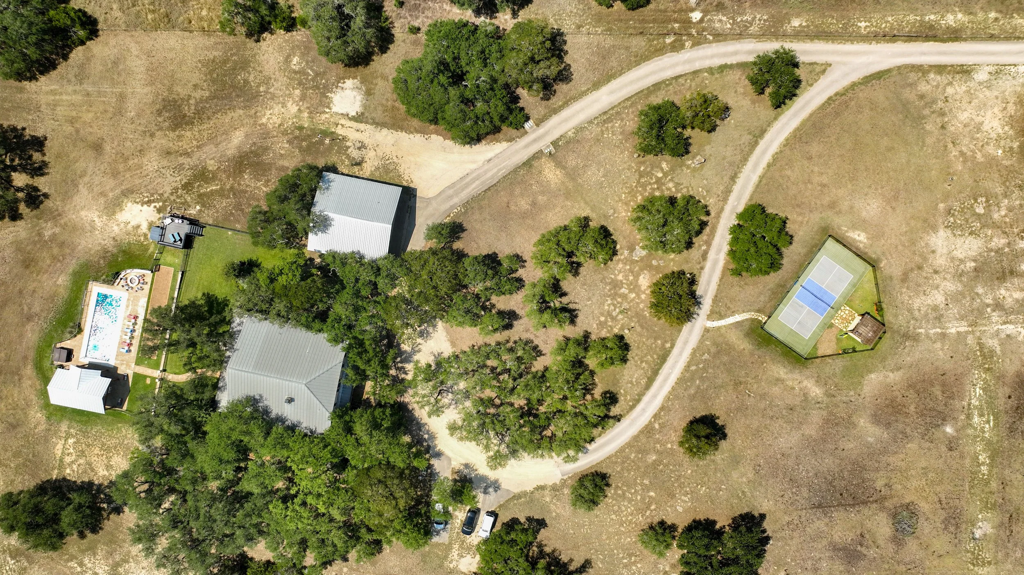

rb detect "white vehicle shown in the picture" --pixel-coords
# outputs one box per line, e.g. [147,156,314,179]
[478,511,495,541]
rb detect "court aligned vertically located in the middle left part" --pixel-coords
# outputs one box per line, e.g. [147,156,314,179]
[139,265,174,359]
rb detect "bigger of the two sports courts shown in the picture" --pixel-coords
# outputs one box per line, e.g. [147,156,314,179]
[764,238,870,357]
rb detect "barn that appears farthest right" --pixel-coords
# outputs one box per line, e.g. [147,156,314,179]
[307,172,404,265]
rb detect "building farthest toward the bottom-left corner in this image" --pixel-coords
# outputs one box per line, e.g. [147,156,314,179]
[47,364,119,414]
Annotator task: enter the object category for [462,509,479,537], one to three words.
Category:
car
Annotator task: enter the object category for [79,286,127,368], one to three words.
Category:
swimming pool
